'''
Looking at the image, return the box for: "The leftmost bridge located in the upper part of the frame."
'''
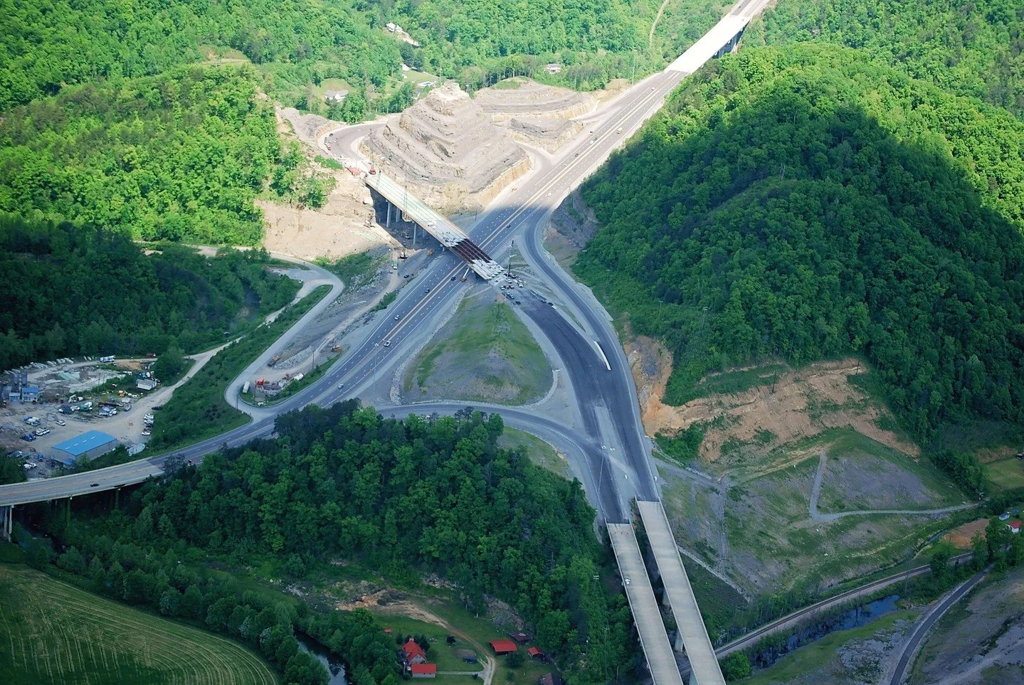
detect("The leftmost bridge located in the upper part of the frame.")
[365,170,505,280]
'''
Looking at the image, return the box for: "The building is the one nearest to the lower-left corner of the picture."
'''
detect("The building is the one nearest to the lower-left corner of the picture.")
[56,427,114,464]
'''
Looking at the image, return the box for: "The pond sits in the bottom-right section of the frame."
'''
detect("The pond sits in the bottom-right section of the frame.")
[725,593,902,685]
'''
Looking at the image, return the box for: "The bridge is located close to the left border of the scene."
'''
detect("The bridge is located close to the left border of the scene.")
[0,455,166,541]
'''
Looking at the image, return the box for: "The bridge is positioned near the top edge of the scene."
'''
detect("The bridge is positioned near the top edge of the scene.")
[666,13,751,74]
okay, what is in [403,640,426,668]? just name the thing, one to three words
house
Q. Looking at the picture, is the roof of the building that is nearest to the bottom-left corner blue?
Yes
